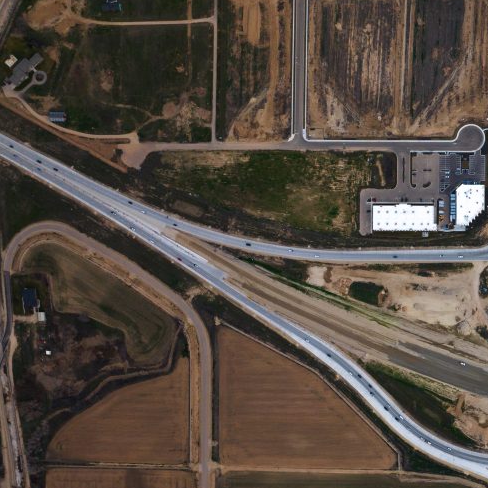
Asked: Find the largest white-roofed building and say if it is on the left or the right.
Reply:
right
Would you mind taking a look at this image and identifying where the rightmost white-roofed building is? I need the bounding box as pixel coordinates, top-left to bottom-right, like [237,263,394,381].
[456,183,484,226]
